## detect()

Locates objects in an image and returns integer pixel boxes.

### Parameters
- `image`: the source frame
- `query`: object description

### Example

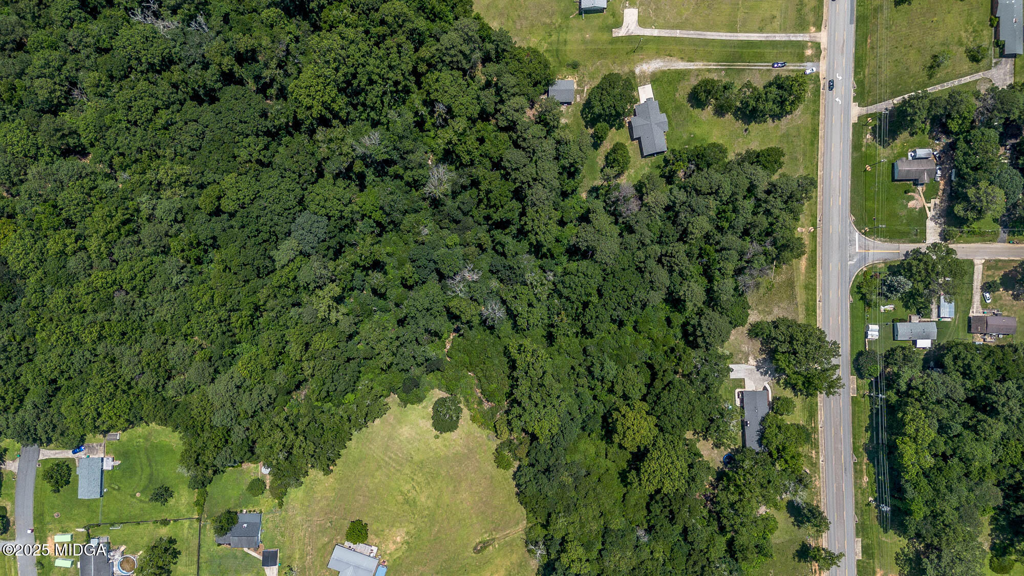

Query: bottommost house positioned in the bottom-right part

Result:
[743,389,772,453]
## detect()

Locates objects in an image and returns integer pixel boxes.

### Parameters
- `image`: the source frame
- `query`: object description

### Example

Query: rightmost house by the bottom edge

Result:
[330,542,380,576]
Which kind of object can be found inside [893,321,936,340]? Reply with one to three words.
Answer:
house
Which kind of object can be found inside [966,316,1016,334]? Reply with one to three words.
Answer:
house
